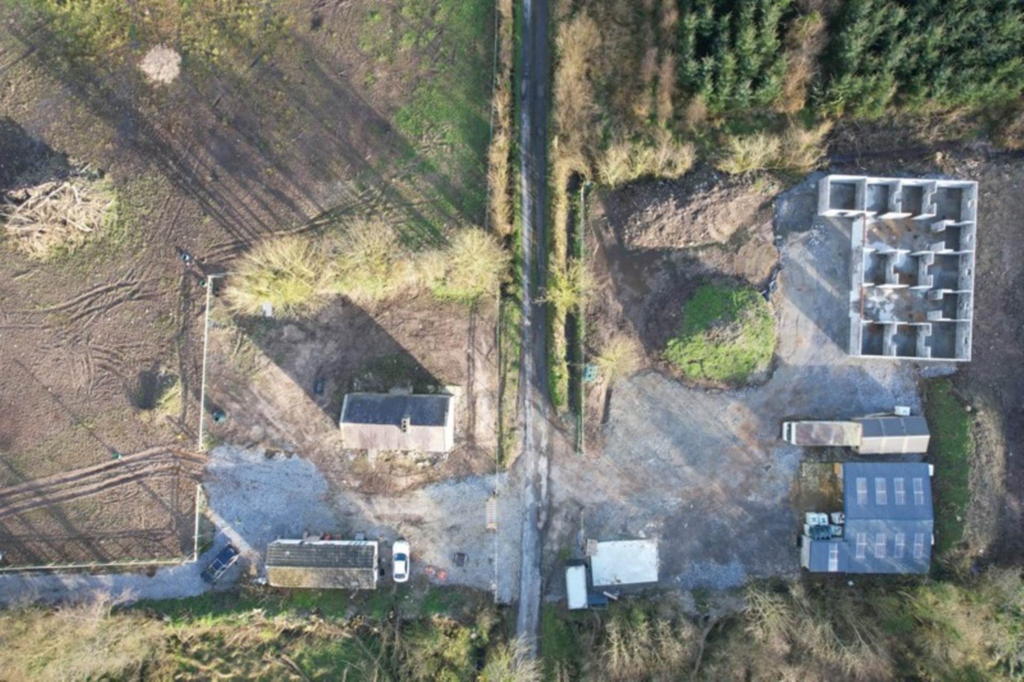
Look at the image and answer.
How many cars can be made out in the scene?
2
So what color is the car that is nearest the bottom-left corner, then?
blue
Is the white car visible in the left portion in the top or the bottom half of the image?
bottom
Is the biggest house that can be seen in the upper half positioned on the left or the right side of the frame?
right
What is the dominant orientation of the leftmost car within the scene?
on a diagonal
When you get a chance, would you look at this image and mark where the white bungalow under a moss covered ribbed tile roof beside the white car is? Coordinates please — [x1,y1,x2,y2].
[267,539,381,591]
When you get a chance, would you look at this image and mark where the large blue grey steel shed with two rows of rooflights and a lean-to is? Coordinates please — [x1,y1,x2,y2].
[799,458,934,575]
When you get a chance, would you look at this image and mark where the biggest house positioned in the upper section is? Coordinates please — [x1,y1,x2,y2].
[816,175,979,361]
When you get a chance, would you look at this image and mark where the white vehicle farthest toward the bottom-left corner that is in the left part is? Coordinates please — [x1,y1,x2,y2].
[390,540,411,582]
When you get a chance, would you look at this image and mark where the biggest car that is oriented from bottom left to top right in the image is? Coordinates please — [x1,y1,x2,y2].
[201,541,238,585]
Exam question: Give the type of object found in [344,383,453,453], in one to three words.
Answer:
house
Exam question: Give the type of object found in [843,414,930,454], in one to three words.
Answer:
shed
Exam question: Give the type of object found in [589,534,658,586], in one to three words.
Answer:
building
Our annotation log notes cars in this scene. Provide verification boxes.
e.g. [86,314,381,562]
[201,541,238,585]
[390,540,411,582]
